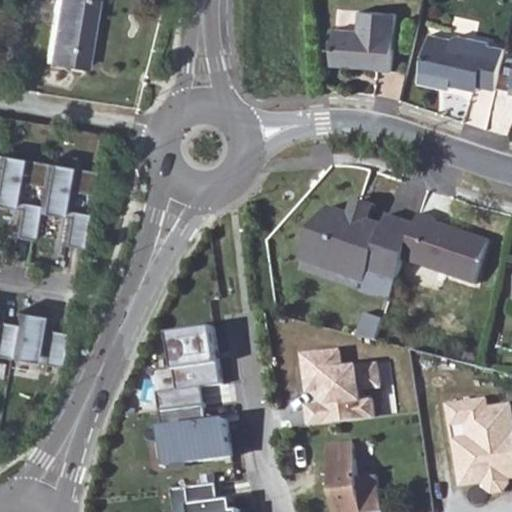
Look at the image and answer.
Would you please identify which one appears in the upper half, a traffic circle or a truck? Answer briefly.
traffic circle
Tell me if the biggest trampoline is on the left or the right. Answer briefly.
right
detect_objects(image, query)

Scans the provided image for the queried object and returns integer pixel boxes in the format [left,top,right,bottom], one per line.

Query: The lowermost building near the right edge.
[442,396,512,494]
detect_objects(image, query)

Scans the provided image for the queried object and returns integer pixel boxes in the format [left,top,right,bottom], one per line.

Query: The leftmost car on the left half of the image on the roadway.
[94,388,108,412]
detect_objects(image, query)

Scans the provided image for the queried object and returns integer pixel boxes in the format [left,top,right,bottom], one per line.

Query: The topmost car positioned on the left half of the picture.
[160,152,174,176]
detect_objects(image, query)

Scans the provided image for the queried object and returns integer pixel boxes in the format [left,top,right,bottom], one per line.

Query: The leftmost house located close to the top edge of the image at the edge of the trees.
[52,0,100,70]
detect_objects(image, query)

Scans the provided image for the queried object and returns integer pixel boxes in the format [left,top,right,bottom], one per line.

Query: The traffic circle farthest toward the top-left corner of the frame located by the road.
[147,82,281,215]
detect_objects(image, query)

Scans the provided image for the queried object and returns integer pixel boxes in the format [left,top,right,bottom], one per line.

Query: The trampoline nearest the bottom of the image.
[468,485,490,506]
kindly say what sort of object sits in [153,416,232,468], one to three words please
house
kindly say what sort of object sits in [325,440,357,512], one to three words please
house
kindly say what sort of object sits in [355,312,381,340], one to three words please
shed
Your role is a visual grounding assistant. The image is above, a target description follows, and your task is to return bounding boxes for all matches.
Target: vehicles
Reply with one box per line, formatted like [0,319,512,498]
[160,152,174,176]
[295,445,306,468]
[288,391,312,408]
[94,388,108,412]
[502,66,512,88]
[6,296,16,317]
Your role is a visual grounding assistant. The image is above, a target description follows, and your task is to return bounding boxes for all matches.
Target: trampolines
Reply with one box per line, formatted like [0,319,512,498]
[468,485,490,506]
[143,430,154,441]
